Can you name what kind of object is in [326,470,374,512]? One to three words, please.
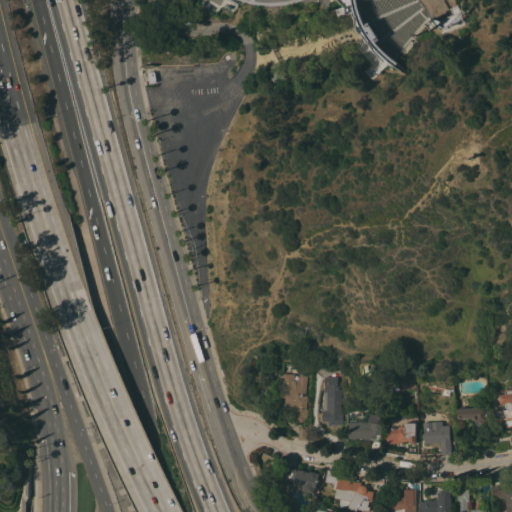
house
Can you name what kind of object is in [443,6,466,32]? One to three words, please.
building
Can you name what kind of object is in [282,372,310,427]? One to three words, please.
house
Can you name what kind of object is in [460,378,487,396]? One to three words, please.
swimming pool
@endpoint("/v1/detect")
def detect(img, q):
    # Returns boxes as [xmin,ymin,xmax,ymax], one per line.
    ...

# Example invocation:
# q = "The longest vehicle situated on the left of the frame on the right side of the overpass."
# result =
[189,324,206,364]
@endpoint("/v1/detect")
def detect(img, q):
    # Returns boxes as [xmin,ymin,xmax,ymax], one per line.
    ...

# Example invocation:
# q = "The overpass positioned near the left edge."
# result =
[0,122,182,512]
